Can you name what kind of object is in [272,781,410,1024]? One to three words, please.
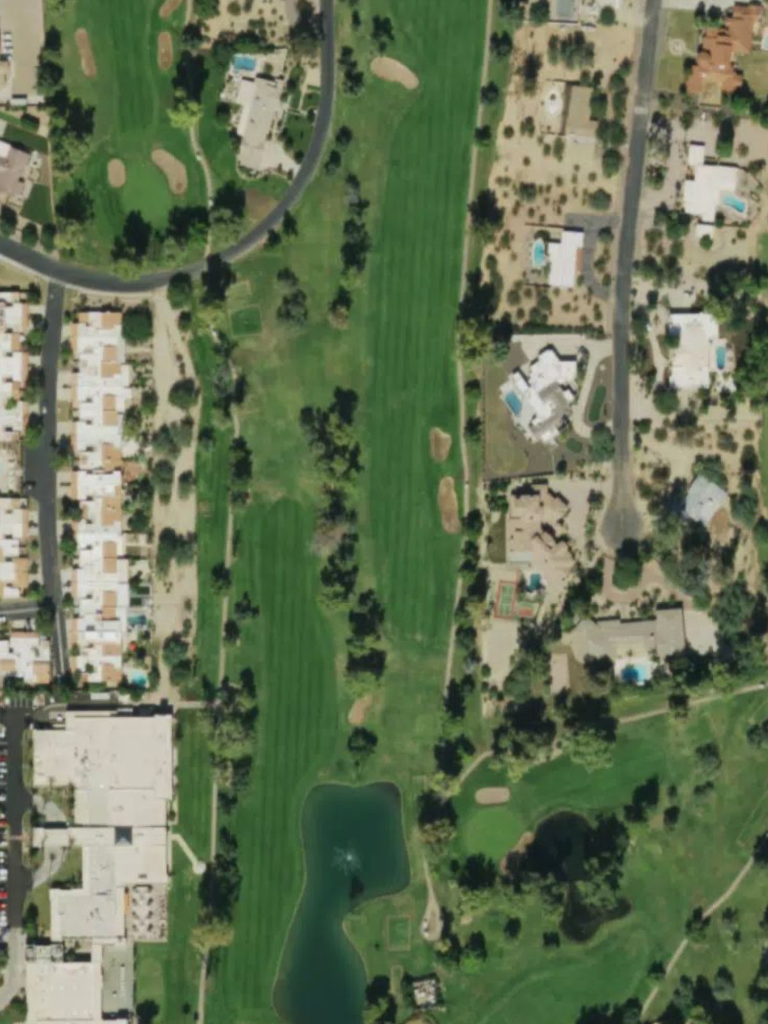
pond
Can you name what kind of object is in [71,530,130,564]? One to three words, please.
house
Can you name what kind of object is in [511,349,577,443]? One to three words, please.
house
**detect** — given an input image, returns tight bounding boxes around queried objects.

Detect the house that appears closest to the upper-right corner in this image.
[686,5,762,93]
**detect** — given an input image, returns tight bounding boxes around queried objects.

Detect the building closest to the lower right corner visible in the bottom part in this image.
[414,981,437,1006]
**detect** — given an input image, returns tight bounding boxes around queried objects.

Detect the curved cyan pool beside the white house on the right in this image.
[723,194,746,213]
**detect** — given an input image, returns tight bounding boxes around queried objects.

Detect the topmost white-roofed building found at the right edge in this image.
[684,144,738,221]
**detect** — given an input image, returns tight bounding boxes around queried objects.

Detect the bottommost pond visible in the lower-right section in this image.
[525,810,632,943]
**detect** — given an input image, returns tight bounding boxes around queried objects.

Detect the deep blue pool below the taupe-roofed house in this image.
[621,665,646,681]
